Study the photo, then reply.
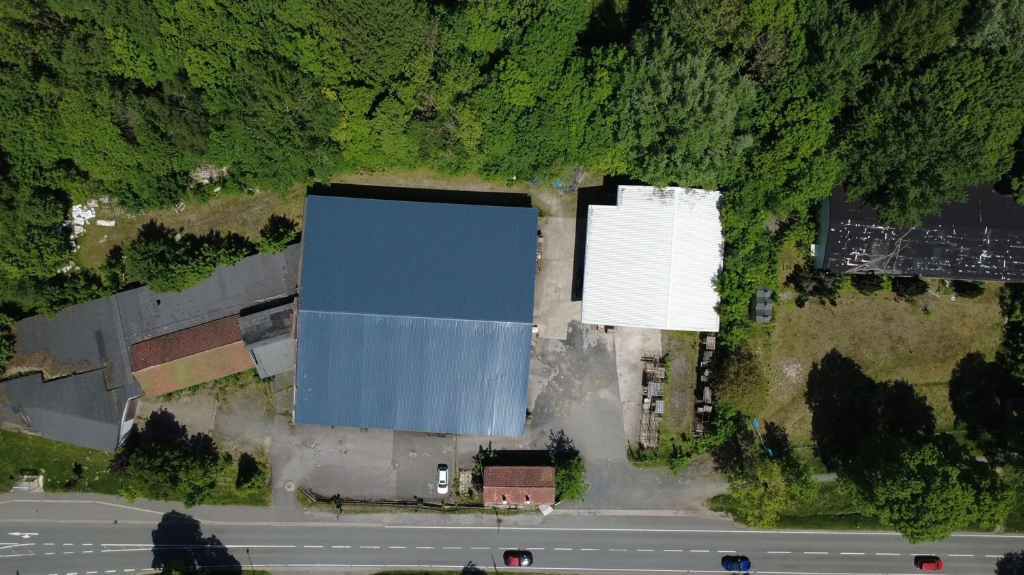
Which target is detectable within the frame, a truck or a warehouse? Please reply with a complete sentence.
I can see a warehouse in this picture.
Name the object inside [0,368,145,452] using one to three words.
building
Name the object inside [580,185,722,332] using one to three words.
shed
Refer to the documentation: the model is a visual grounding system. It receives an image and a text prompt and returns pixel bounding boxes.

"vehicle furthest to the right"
[914,556,943,571]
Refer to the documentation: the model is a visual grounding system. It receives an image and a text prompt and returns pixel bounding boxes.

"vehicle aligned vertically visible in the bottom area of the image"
[436,464,451,495]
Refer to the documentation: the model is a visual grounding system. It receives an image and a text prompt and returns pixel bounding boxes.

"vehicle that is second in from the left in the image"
[503,552,533,568]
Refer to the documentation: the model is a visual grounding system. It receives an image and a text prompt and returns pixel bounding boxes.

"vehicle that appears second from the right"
[721,556,750,572]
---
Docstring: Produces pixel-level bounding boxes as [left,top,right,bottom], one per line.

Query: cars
[914,556,943,571]
[436,464,451,495]
[721,556,750,572]
[503,552,533,568]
